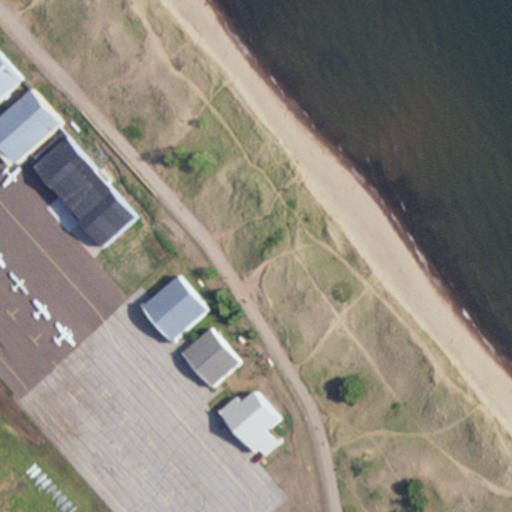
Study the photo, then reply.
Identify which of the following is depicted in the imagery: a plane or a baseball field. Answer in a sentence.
Looking from above, you can make out a plane.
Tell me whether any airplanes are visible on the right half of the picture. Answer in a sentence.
No, no airplane appears on the right half of the picture.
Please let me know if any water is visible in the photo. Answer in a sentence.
Yes, there is water in the image.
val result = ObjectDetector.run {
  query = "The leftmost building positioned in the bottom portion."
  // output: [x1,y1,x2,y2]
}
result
[142,274,210,344]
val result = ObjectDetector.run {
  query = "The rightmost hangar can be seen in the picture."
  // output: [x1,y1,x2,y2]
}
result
[218,391,282,458]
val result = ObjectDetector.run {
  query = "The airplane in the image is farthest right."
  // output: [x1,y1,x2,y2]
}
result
[54,322,73,344]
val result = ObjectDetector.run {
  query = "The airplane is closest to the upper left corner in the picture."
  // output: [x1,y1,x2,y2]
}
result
[2,167,20,186]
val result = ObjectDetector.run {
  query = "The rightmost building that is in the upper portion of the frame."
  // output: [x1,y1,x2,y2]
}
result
[36,131,136,248]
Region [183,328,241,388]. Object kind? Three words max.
hangar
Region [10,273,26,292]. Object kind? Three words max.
airplane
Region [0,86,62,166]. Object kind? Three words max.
hangar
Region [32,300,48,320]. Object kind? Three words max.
airplane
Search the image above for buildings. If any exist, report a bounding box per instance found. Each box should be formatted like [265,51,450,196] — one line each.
[183,328,241,388]
[0,50,24,106]
[218,391,282,458]
[142,274,210,344]
[36,131,136,248]
[0,86,62,166]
